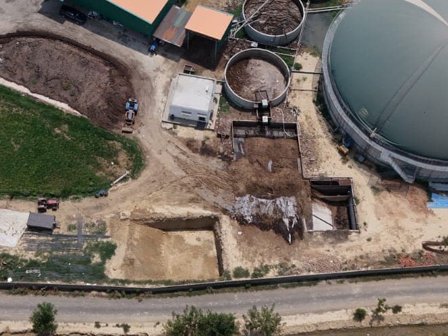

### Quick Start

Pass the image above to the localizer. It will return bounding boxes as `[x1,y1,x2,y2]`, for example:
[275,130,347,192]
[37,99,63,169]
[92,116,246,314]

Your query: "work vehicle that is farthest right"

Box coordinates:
[145,35,161,54]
